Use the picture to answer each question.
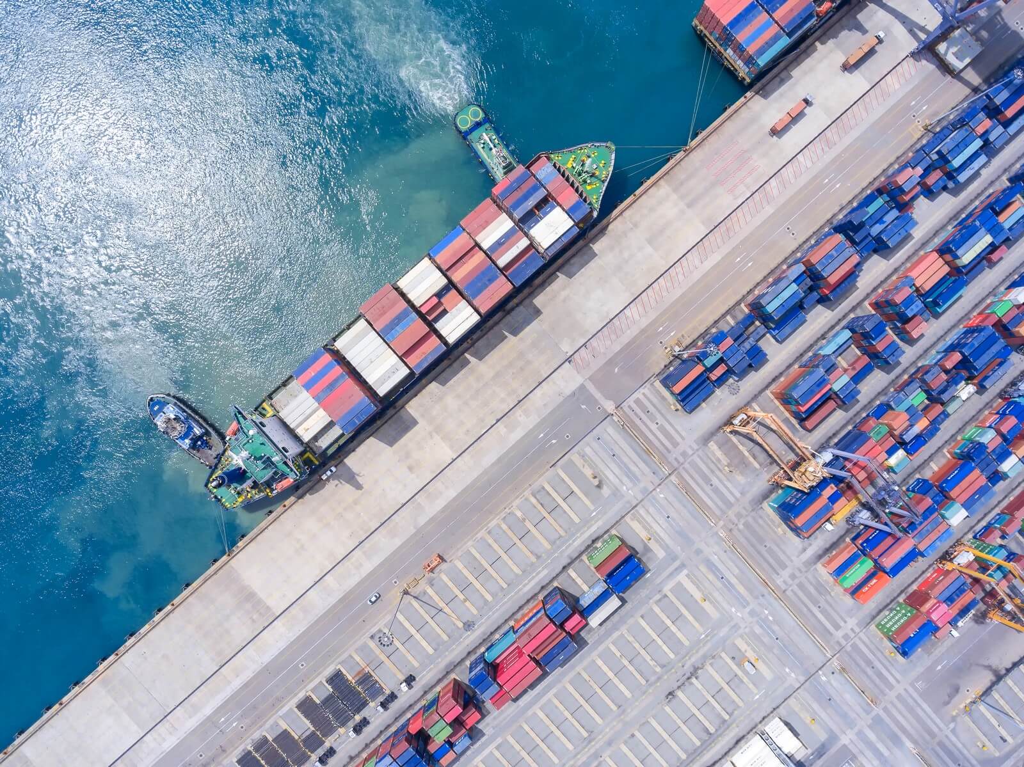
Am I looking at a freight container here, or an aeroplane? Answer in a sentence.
Of the two, only a freight container appears.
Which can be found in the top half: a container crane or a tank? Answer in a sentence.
You can see a container crane in the top half.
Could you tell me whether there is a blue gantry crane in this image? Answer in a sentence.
Yes, you can see a blue gantry crane in this photo.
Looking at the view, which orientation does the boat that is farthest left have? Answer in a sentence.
I'd say the boat that is farthest left is aligned diagonally in the picture.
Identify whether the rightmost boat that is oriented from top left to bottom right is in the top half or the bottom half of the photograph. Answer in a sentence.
You can find the rightmost boat that is oriented from top left to bottom right in the top half.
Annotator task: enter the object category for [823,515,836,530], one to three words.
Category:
vehicle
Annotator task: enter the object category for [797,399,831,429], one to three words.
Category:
shipping container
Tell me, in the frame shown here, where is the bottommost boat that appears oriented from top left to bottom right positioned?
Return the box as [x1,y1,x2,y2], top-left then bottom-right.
[145,391,227,468]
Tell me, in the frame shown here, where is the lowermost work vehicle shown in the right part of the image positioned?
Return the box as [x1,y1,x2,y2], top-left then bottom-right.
[740,658,757,676]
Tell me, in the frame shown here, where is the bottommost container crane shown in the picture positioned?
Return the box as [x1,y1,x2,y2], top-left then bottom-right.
[939,534,1024,630]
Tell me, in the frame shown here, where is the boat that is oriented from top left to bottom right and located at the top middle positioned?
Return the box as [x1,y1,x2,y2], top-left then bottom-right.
[453,102,520,183]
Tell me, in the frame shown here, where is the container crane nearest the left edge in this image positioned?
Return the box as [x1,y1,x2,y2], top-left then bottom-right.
[720,398,830,496]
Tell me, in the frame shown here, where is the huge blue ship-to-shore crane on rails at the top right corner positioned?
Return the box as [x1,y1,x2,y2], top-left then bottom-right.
[906,0,992,60]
